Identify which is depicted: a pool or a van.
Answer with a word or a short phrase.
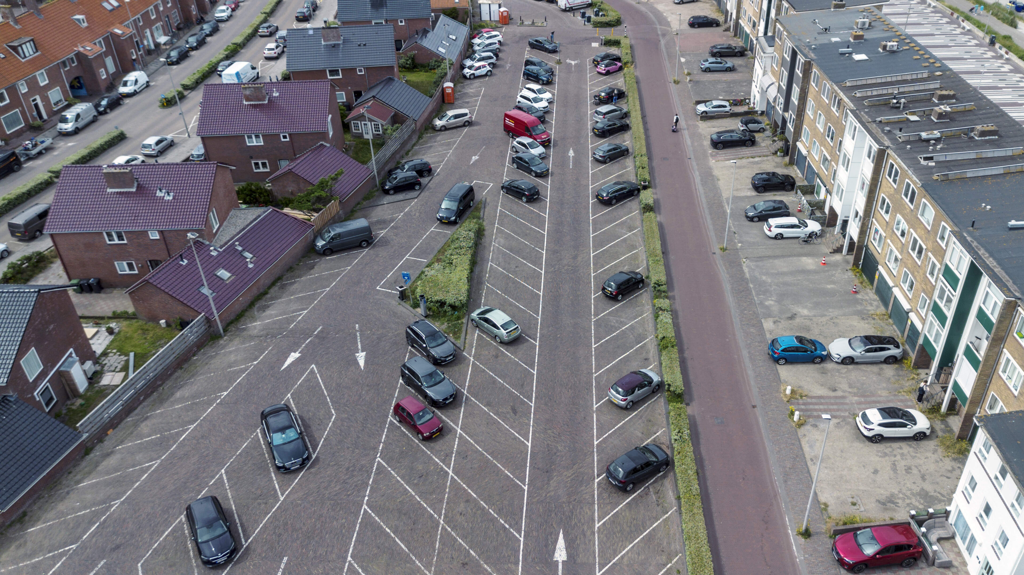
van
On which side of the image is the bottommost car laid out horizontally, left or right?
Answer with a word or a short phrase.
right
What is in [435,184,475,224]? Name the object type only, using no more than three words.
van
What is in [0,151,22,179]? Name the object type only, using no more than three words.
vehicle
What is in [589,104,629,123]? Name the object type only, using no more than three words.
car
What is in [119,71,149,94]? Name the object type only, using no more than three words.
vehicle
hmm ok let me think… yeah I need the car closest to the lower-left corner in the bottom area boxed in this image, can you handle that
[186,492,233,567]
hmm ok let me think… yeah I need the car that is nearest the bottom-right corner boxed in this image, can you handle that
[832,523,931,574]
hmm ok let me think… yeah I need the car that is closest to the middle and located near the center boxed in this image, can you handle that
[468,306,521,344]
